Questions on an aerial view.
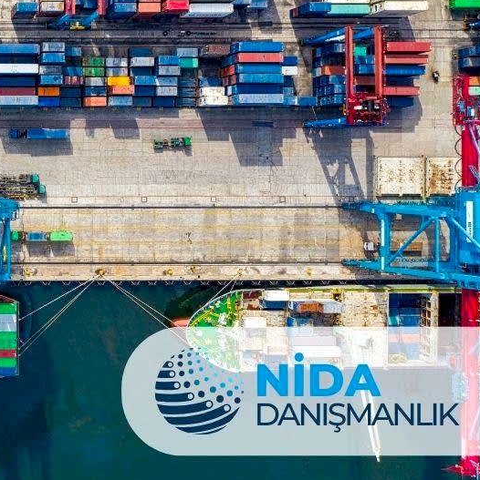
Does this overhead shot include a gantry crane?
Yes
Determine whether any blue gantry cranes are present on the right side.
Yes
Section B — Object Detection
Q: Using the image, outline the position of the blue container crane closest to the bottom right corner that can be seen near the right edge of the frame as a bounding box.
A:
[349,78,480,480]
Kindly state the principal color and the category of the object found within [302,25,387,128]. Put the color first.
red container crane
